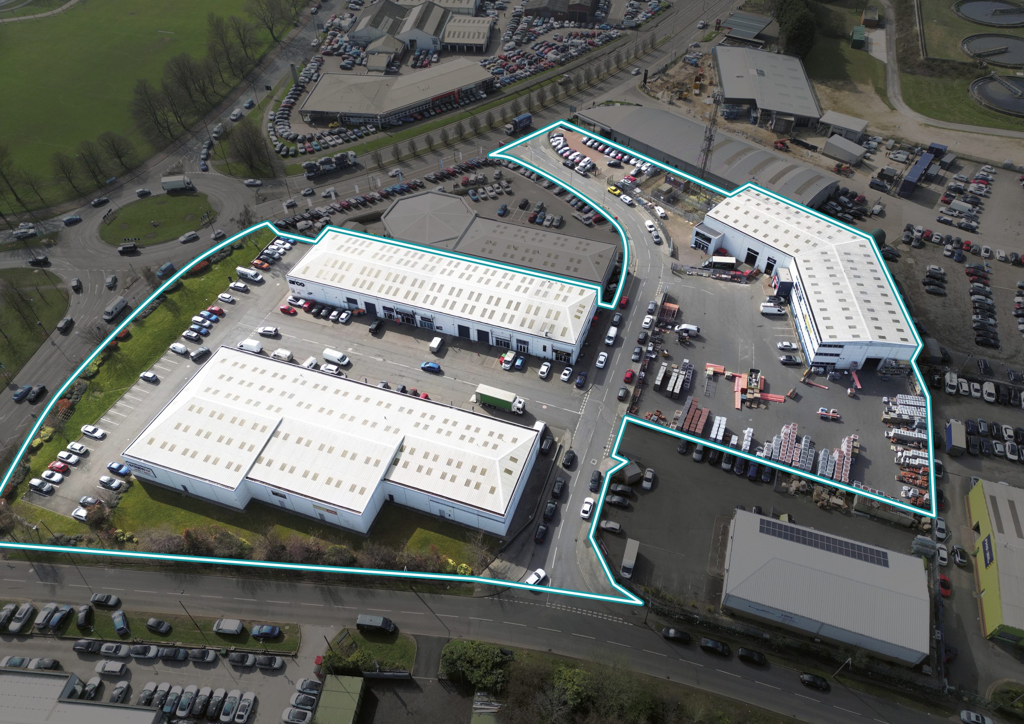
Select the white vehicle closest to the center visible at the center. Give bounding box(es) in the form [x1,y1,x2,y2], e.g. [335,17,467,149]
[503,350,515,368]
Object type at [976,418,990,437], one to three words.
car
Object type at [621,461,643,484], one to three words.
shed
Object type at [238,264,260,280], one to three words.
vehicle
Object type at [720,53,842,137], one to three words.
building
